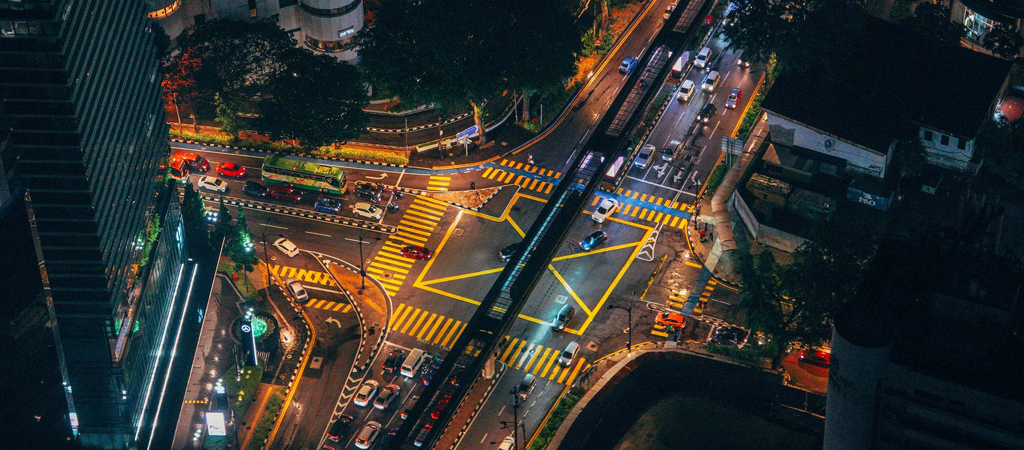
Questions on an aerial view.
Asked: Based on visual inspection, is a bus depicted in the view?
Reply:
Yes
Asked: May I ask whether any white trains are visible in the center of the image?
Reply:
No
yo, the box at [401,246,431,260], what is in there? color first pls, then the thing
red car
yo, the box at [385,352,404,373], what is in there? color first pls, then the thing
black car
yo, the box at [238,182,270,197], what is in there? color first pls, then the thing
black vehicle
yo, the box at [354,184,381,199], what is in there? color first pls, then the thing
black car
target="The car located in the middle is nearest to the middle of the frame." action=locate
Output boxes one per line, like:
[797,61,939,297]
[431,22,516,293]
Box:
[498,244,517,260]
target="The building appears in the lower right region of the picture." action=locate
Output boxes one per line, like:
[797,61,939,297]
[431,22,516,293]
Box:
[819,247,1024,450]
